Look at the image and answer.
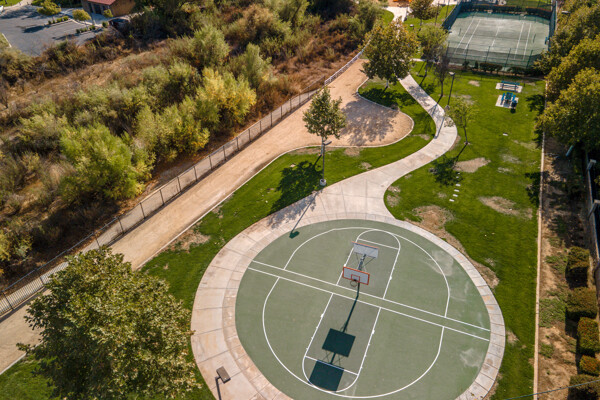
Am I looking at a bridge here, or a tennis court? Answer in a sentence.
Looking from above, you can make out a tennis court.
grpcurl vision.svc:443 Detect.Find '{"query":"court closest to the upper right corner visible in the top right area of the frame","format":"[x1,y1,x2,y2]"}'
[428,9,551,74]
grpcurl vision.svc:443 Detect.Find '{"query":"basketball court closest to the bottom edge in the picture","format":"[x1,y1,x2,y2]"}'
[191,205,503,400]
